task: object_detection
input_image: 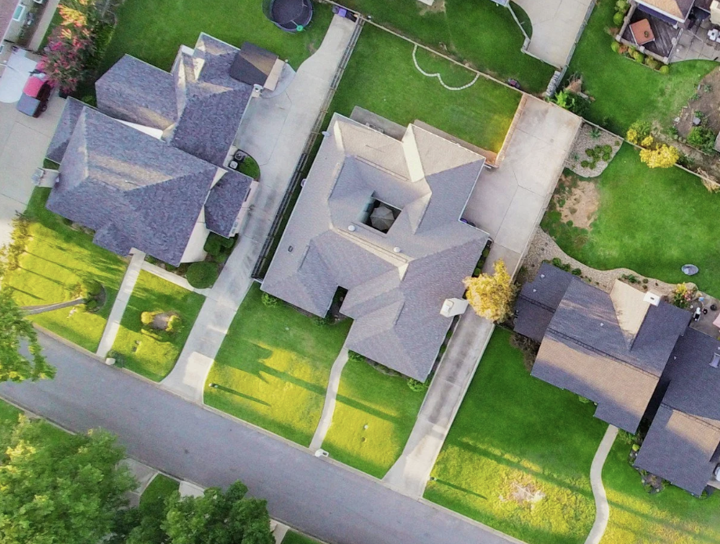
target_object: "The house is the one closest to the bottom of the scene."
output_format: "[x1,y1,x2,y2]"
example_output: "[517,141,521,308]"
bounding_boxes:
[512,261,720,497]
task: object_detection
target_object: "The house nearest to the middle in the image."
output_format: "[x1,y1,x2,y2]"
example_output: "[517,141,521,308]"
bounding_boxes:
[260,113,490,382]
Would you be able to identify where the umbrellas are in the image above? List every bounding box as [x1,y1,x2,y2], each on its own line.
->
[713,308,720,332]
[629,19,656,47]
[368,204,397,231]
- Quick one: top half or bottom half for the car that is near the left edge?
top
